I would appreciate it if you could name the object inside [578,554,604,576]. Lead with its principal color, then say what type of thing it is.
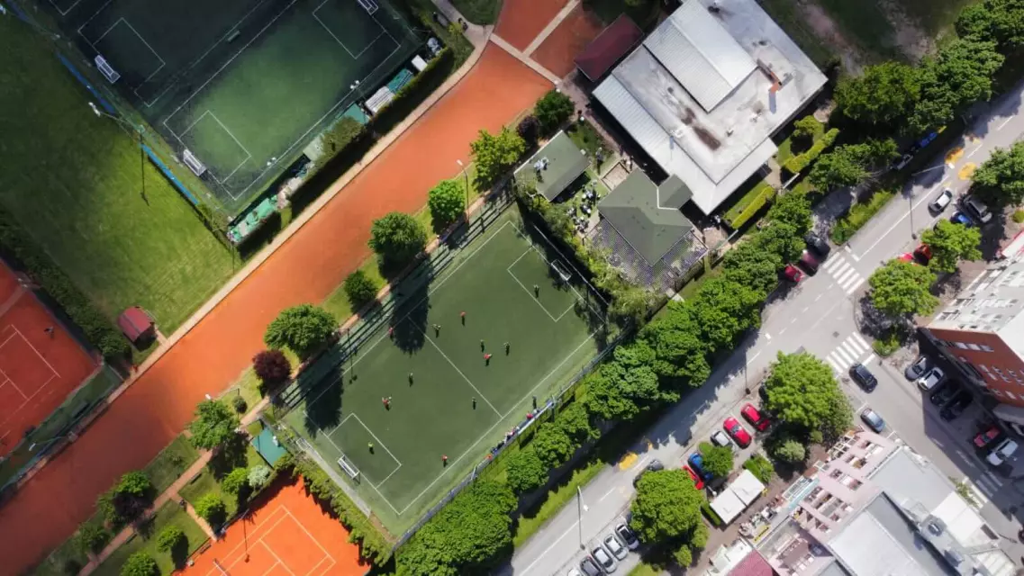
gray car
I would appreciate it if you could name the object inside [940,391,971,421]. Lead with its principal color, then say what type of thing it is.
black car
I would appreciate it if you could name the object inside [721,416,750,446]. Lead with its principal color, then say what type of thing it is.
red car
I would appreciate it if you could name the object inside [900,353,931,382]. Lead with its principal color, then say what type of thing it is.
gray car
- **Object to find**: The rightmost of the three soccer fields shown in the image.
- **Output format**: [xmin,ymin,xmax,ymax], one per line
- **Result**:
[280,200,623,532]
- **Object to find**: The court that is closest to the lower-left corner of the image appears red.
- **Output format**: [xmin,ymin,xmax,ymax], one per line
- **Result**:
[0,294,98,457]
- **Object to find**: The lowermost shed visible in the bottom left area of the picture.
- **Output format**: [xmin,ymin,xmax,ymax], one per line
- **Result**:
[253,429,292,469]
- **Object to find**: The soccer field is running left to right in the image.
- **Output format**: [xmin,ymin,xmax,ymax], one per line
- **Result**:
[19,0,263,113]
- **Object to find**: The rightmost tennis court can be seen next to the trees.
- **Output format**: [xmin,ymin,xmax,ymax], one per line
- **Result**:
[187,474,384,576]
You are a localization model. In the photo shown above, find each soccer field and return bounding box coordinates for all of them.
[126,0,421,222]
[19,0,263,113]
[280,200,623,532]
